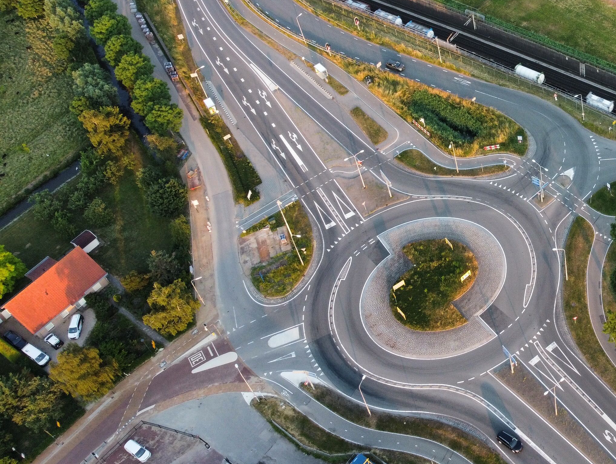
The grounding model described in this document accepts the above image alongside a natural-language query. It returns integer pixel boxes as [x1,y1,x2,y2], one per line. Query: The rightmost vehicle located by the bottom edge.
[494,428,525,455]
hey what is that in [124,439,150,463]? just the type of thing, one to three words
car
